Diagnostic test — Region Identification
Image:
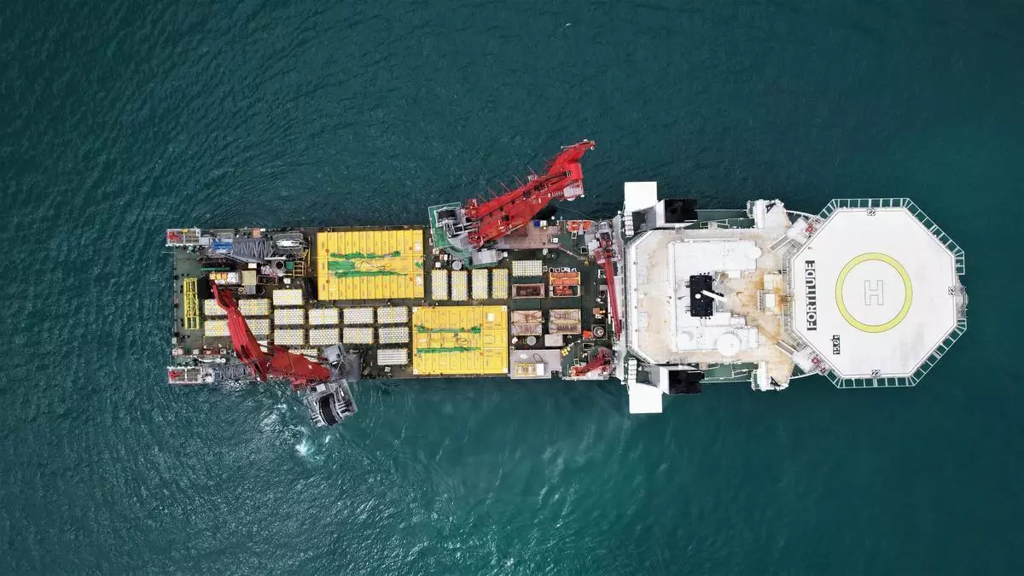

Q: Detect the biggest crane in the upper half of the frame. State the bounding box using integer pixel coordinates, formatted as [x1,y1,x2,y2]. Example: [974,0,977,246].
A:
[428,138,596,266]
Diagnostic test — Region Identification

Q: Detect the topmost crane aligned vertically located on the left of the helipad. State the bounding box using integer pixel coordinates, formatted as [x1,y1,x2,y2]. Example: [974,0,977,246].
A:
[586,220,621,341]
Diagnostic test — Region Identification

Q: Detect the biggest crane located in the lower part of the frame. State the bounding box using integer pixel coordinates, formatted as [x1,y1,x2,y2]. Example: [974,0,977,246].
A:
[208,279,362,427]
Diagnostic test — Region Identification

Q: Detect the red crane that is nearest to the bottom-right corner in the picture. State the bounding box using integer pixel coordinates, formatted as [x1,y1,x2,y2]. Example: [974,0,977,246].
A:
[569,348,612,378]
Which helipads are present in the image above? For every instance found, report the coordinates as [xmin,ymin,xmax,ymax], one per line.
[769,199,970,388]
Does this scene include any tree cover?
No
